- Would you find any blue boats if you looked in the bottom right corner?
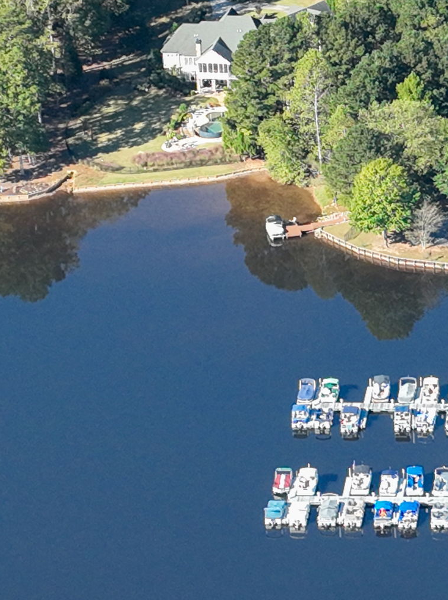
Yes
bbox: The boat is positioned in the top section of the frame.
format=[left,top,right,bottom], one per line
[267,221,284,245]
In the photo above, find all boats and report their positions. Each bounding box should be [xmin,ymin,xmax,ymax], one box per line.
[264,498,289,530]
[396,370,417,403]
[433,459,448,495]
[295,372,317,406]
[267,221,284,245]
[378,463,400,495]
[404,463,427,495]
[342,501,366,533]
[428,501,448,533]
[340,408,362,436]
[313,405,335,435]
[295,463,321,495]
[392,408,414,436]
[316,499,340,533]
[419,374,441,403]
[291,405,315,434]
[371,374,392,403]
[286,499,310,533]
[318,374,341,404]
[415,408,437,437]
[349,463,374,495]
[371,501,396,536]
[398,501,421,533]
